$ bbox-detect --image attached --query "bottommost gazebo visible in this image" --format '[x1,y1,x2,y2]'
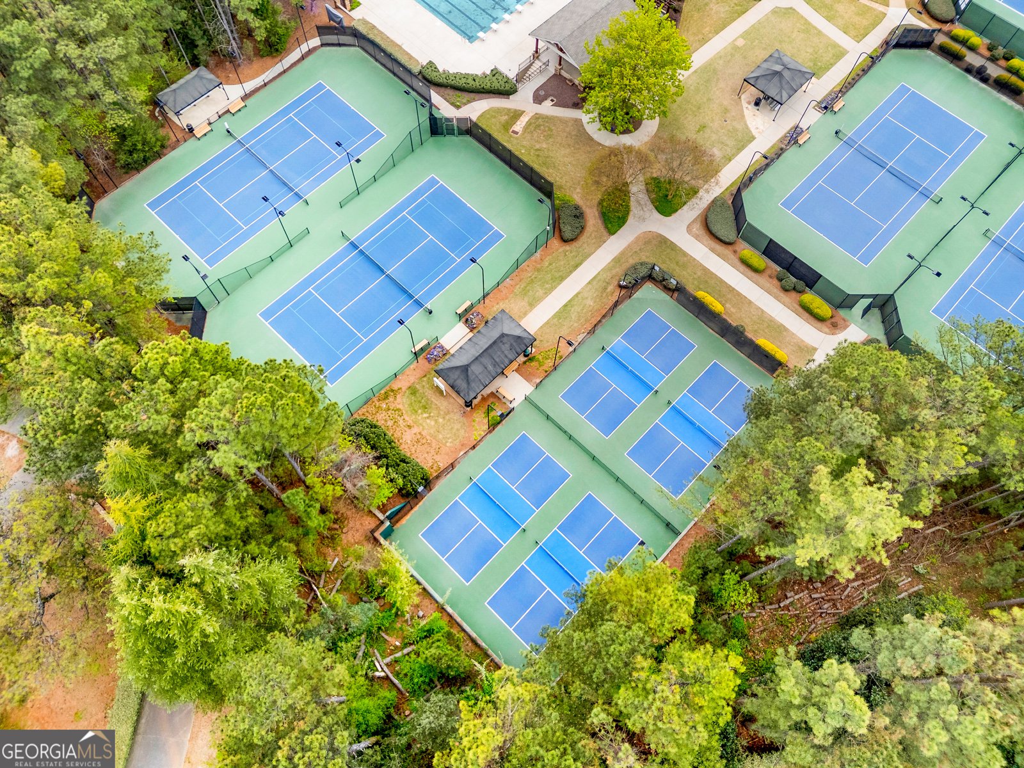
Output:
[434,309,536,404]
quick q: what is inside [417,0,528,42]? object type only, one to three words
swimming pool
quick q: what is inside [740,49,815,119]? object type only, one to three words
gazebo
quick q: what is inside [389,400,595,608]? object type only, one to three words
sports court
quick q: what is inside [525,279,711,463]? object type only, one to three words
sports court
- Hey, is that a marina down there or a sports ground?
sports ground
